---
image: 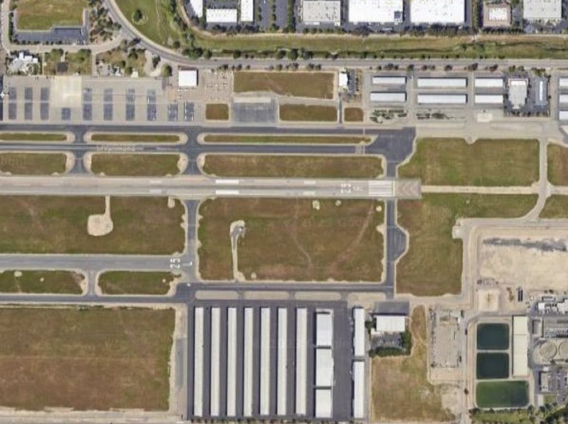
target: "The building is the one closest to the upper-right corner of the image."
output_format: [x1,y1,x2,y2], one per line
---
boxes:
[524,0,563,23]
